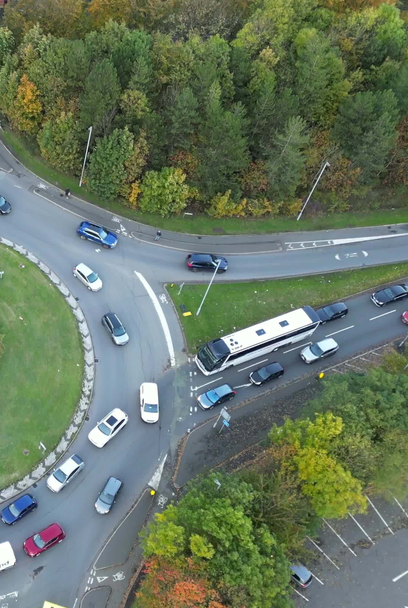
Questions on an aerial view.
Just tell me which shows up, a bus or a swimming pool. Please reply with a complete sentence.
The one in the frame is a bus.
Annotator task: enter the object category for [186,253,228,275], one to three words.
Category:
car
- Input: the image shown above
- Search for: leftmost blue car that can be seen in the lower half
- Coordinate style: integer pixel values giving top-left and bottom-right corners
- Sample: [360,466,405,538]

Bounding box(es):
[0,492,39,525]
